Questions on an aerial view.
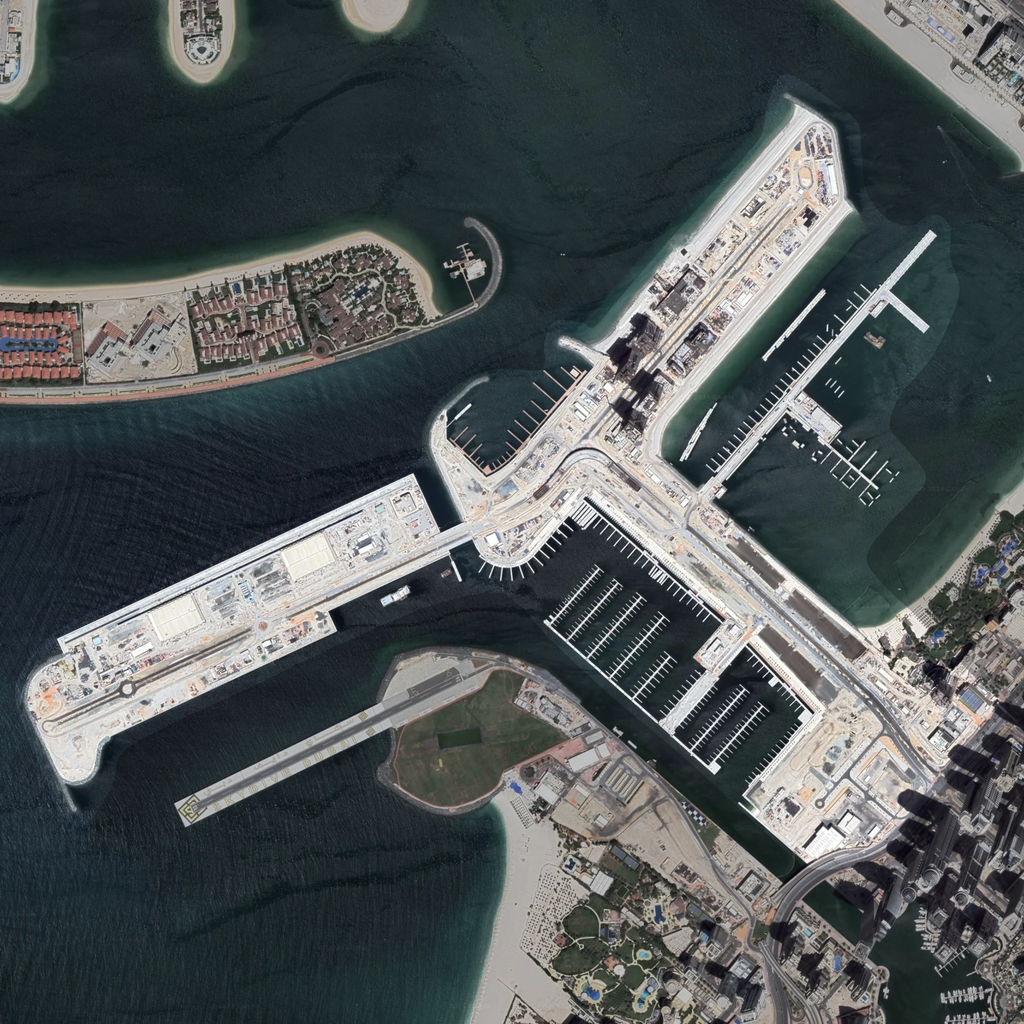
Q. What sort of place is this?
port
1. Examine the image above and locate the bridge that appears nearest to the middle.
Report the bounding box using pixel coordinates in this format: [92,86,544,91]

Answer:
[433,516,475,551]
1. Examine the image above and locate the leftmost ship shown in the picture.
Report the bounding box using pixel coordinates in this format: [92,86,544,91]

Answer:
[380,585,411,606]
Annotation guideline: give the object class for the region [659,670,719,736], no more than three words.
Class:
pier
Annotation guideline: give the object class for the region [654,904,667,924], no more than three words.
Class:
swimming pool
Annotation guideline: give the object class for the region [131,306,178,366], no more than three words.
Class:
building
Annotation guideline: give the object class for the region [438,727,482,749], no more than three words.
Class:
sports field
